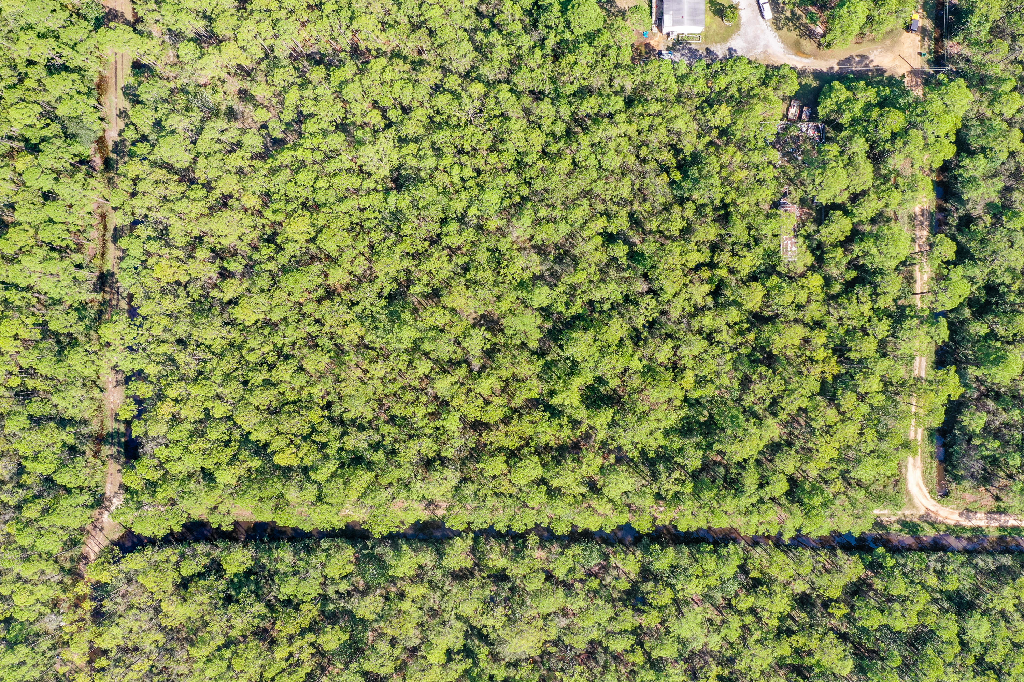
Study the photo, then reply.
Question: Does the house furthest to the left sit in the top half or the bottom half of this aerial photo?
top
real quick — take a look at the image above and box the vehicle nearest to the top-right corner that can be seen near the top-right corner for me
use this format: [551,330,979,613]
[907,13,921,34]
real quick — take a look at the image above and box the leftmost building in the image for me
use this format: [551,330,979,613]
[661,0,705,31]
